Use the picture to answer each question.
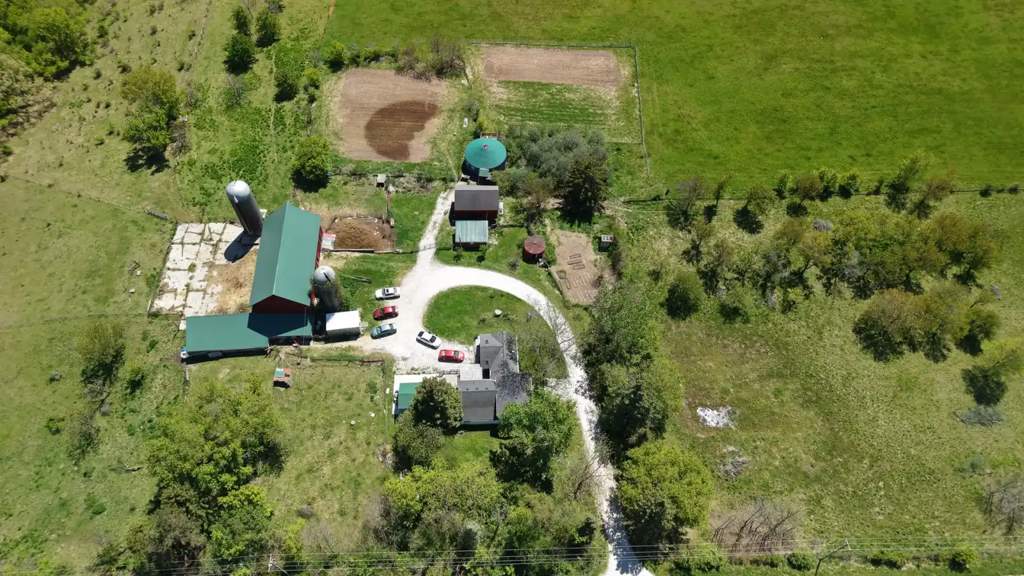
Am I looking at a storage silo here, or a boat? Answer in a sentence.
The image shows a storage silo.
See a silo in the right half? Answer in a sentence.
No, there is no silo in the right half.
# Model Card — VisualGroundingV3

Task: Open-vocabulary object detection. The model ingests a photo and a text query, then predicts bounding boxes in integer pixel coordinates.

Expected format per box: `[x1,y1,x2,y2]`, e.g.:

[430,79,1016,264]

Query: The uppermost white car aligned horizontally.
[375,288,400,301]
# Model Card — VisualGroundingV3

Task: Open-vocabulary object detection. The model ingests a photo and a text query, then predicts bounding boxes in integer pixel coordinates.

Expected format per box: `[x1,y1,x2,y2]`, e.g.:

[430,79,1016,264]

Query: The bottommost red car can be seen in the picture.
[439,349,465,361]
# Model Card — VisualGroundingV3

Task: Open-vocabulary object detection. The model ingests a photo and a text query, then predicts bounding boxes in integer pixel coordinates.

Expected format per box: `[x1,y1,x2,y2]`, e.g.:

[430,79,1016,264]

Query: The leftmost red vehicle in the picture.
[373,306,398,319]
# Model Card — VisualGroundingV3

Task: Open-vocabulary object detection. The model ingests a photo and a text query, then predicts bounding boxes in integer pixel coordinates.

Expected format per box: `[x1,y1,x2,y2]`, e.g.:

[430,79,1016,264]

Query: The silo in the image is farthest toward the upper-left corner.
[225,181,264,238]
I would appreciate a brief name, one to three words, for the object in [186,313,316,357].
shed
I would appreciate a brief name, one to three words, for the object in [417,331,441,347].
car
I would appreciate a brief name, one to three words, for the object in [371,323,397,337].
car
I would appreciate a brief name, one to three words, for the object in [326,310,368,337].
building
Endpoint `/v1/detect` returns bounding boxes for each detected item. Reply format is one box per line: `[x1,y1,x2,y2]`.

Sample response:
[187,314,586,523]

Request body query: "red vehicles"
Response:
[373,306,398,319]
[439,349,465,361]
